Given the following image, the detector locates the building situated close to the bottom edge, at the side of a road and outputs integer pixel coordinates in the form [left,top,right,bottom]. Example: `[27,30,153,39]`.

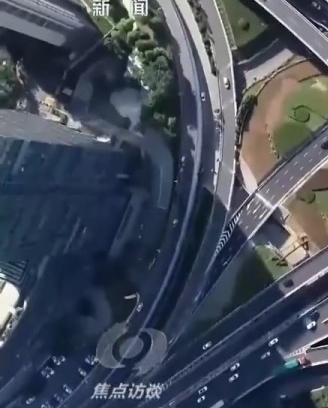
[16,304,142,389]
